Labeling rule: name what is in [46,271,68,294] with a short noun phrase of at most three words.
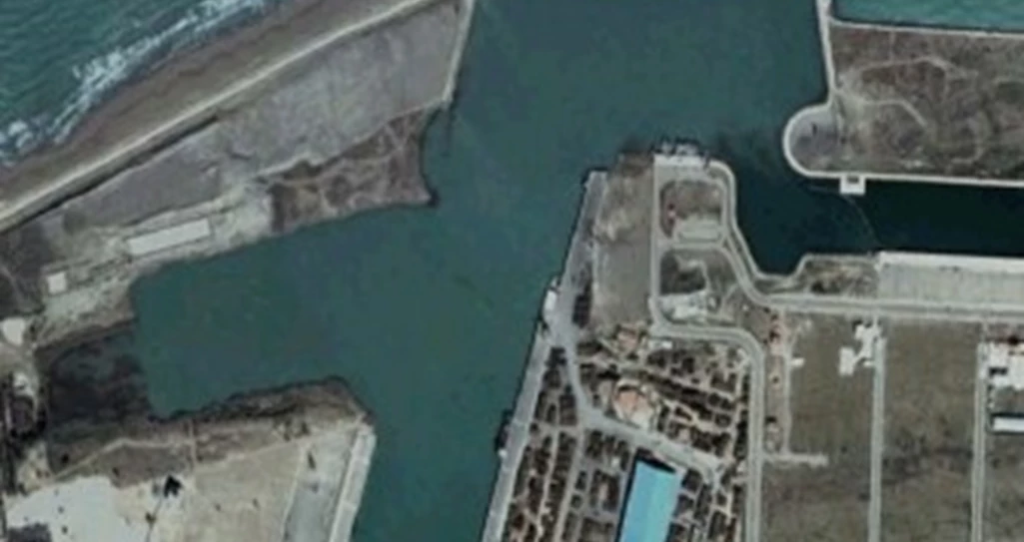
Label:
building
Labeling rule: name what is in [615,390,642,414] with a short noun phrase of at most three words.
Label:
house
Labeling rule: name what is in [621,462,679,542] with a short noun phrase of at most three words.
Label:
building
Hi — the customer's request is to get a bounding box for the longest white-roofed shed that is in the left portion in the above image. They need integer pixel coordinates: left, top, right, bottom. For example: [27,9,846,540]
[127,219,211,257]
